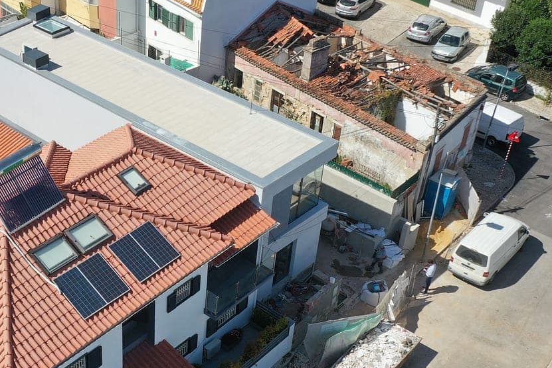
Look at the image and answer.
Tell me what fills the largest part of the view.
buildings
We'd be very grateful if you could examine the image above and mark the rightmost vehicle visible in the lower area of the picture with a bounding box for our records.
[448,209,531,284]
